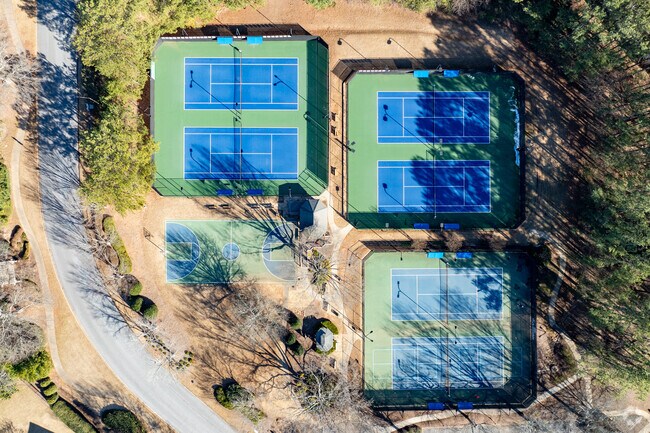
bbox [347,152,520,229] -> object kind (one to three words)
tennis court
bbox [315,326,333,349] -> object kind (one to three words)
gazebo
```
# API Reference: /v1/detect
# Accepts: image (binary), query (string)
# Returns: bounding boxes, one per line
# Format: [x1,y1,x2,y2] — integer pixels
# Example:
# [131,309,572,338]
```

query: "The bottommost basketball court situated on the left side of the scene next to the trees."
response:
[166,220,296,283]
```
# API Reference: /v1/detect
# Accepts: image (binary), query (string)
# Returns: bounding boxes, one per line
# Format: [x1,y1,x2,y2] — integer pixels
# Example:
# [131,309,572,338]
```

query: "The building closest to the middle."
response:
[300,200,327,239]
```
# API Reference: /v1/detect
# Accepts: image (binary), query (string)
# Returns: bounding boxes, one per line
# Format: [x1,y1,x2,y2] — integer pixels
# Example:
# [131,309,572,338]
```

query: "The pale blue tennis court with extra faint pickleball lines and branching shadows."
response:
[365,329,531,403]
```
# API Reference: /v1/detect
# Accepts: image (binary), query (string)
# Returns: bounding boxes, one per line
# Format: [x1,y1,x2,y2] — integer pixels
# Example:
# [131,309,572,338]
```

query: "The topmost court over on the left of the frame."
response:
[154,41,328,118]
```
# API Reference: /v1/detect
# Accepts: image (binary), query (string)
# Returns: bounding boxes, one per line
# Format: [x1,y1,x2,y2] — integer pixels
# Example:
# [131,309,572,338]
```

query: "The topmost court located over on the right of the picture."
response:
[347,72,520,152]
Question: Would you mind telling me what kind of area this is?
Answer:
sports ground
